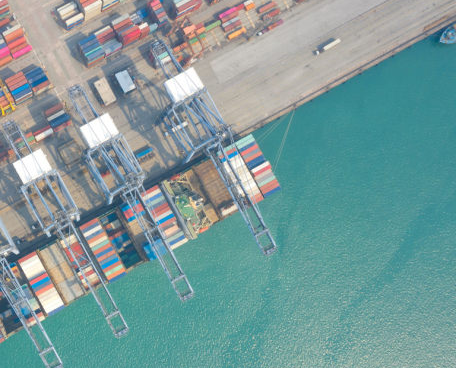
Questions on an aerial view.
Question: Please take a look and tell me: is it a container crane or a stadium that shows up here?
container crane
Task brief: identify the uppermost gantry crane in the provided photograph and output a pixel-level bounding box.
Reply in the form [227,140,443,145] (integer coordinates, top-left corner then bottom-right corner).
[169,8,206,62]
